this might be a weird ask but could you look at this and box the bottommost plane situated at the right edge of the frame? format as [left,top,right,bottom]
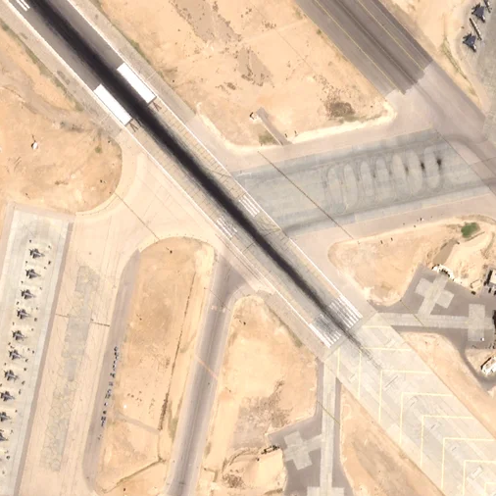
[462,31,476,50]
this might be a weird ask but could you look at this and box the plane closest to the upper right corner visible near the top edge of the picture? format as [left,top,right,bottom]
[471,1,485,20]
